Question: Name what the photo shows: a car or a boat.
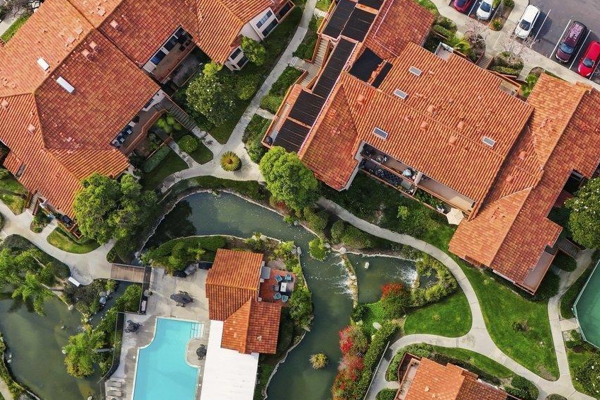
car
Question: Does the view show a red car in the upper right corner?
Yes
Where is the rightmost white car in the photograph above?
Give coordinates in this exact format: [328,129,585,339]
[513,2,541,42]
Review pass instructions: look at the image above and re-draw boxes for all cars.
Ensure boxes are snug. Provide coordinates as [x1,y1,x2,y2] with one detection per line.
[513,2,541,42]
[576,40,600,80]
[473,0,495,24]
[448,0,473,23]
[554,20,588,65]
